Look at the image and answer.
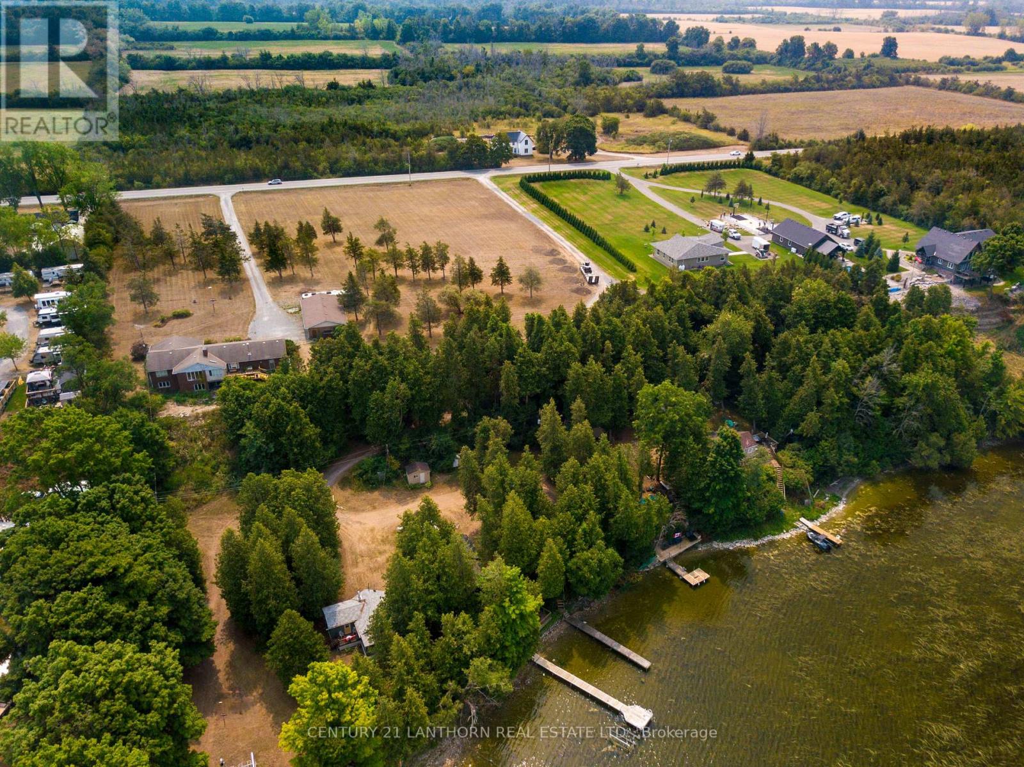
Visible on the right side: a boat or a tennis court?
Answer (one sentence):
It is a boat that can be seen on the right side.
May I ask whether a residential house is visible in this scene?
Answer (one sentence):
Yes, the frame does contain a residential house.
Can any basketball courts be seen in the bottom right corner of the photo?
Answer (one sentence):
No, I can find no basketball court in the bottom right corner of the photo.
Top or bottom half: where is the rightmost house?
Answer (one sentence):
The rightmost house sits in the top half of the picture.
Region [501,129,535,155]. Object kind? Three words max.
house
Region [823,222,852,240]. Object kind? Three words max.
vehicle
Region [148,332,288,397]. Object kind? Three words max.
house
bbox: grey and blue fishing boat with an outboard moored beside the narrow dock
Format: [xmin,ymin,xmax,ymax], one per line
[808,531,839,558]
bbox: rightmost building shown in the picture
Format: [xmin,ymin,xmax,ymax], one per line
[917,230,1001,282]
